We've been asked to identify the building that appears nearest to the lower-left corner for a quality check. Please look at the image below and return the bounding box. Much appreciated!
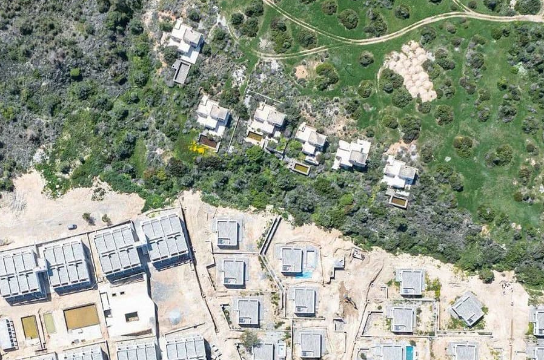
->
[0,319,18,350]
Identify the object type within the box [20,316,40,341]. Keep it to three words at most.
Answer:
swimming pool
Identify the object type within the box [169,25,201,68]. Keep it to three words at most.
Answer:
house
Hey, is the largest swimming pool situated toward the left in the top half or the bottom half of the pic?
bottom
